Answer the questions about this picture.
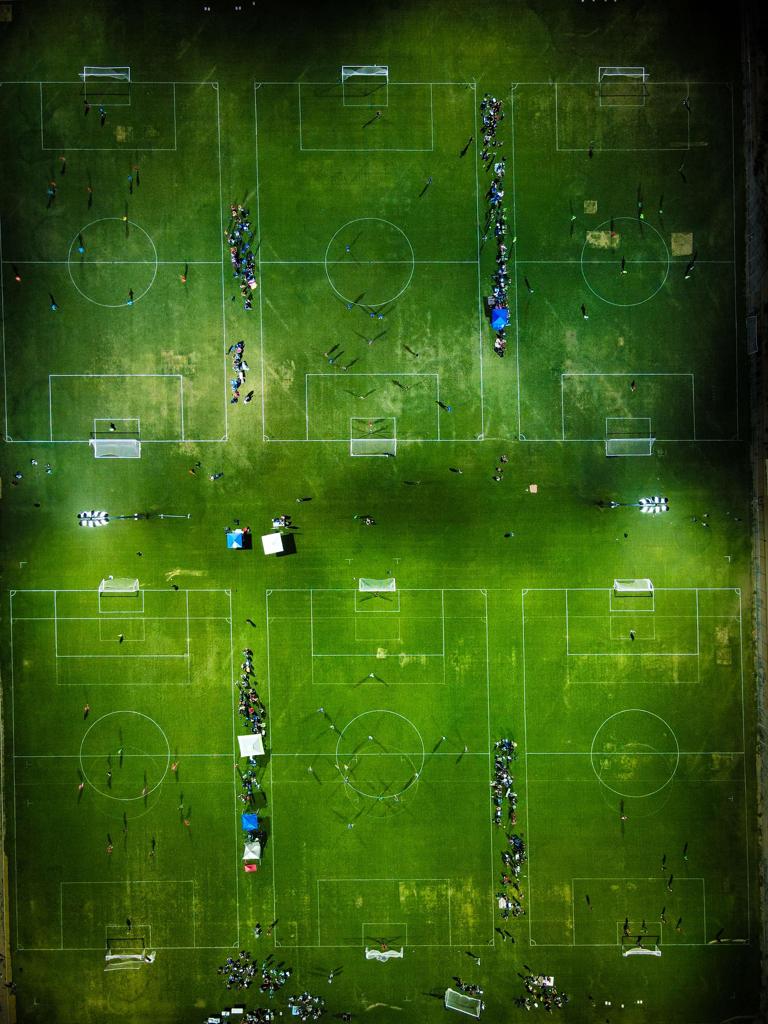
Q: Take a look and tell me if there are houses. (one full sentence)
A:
No, no house can be seen from above.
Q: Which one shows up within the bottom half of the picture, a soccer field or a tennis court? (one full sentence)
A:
There is a soccer field within the bottom half of the picture.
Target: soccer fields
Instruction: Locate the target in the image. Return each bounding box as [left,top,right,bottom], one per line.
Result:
[0,83,227,441]
[11,590,239,949]
[513,83,739,440]
[256,83,483,440]
[267,589,494,947]
[523,588,749,946]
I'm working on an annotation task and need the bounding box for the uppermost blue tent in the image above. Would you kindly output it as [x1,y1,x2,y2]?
[490,309,508,332]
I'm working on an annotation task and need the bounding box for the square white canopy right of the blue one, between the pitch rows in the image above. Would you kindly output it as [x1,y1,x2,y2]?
[262,533,286,554]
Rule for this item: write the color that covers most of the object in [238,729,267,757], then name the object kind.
white tent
